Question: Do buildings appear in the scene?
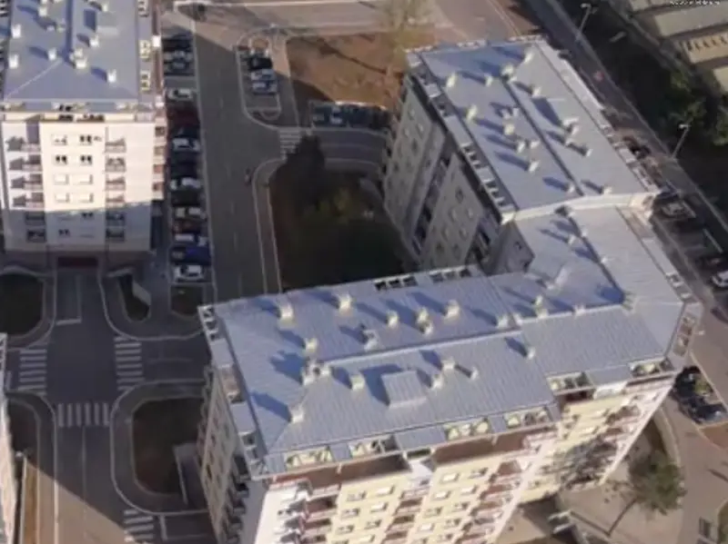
Yes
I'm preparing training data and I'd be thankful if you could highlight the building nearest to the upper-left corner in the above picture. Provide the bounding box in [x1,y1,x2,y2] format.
[0,0,160,266]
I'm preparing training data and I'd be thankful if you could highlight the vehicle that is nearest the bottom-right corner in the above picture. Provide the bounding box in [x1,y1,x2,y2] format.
[690,401,728,426]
